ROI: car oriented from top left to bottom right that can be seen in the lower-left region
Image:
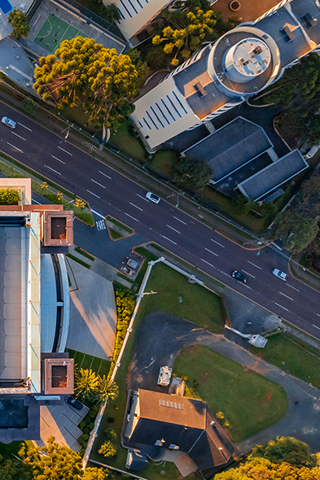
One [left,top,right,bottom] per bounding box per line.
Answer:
[65,395,83,410]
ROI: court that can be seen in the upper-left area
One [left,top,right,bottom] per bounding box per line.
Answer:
[19,0,126,60]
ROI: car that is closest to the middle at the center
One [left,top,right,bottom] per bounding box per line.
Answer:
[144,191,162,204]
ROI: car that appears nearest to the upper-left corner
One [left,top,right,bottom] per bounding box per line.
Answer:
[0,116,18,129]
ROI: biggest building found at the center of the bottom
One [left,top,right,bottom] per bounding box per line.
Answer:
[121,387,235,471]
